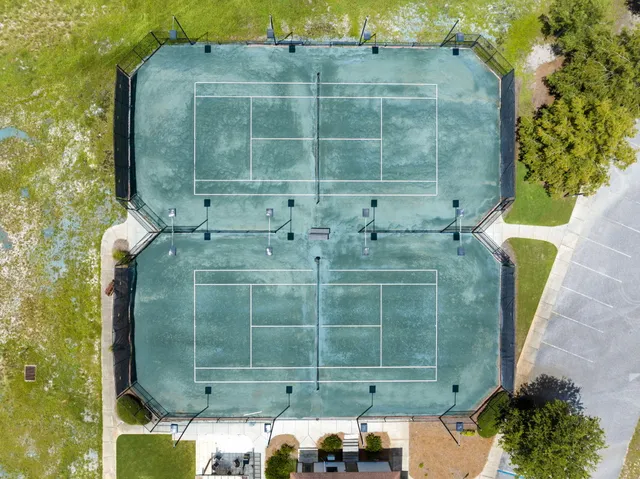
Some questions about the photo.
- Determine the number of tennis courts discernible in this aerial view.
two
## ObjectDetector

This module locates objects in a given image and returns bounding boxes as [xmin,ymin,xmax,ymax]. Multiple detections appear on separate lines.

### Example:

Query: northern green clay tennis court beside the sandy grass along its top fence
[129,44,501,232]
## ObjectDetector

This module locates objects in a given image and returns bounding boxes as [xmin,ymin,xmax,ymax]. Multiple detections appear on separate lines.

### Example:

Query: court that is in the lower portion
[129,232,501,420]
